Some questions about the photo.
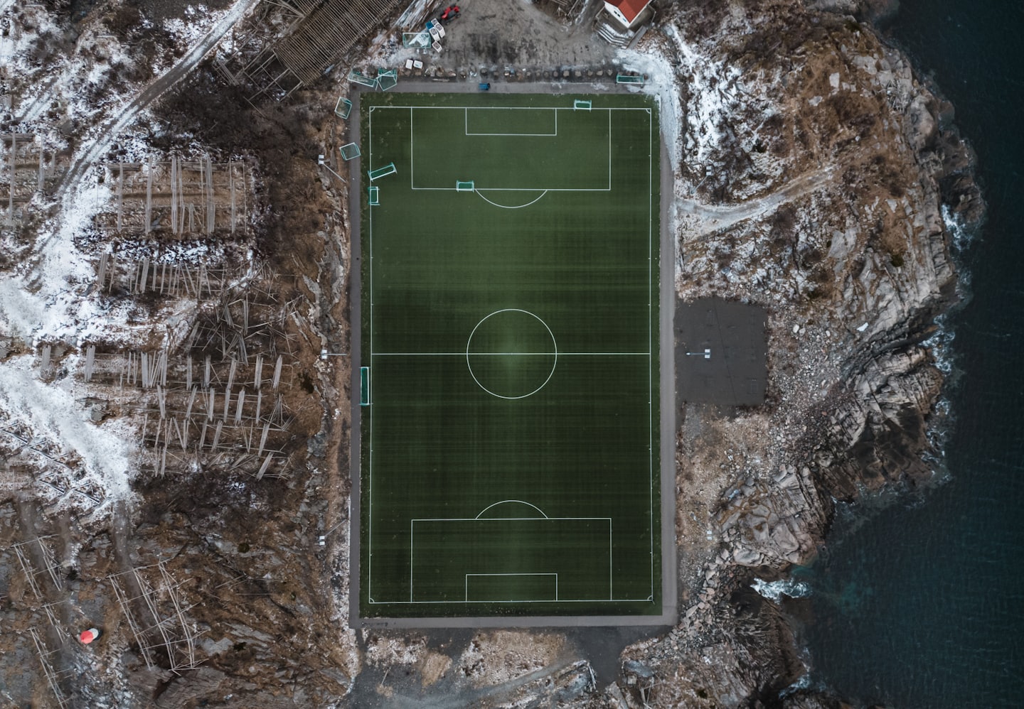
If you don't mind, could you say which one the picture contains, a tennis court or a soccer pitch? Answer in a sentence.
Looking from above, you can make out a soccer pitch.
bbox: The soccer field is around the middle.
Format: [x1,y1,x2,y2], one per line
[359,92,662,617]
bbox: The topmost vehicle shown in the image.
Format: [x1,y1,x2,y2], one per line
[437,0,461,25]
